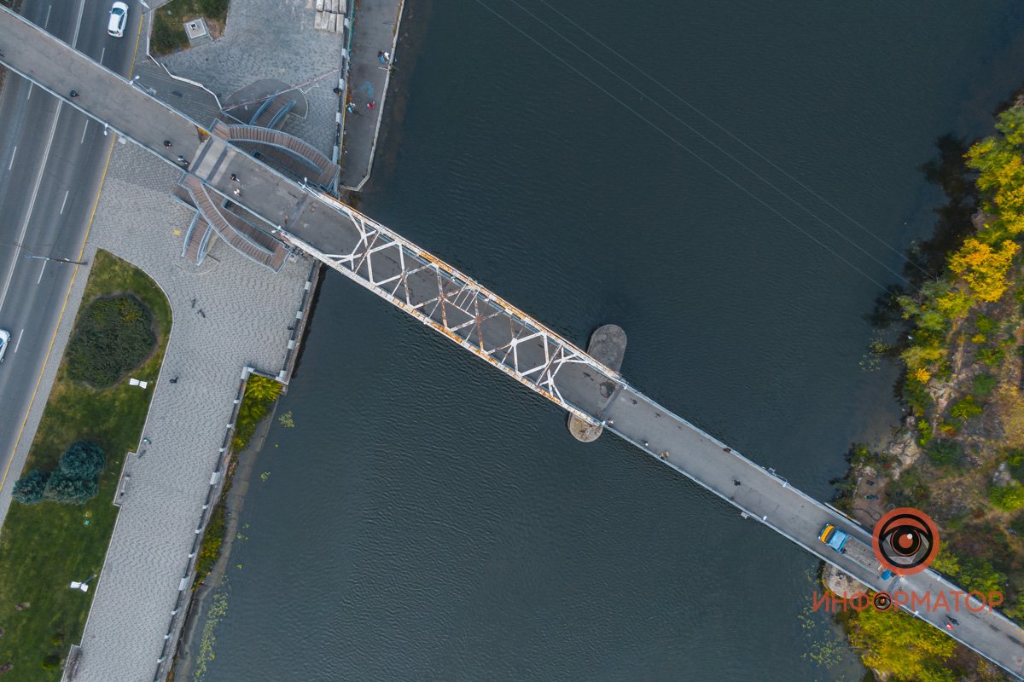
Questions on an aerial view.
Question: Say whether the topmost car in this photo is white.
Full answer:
Yes, the topmost car is white.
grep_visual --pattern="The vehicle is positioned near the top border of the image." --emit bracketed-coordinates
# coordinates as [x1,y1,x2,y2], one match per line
[107,1,130,38]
